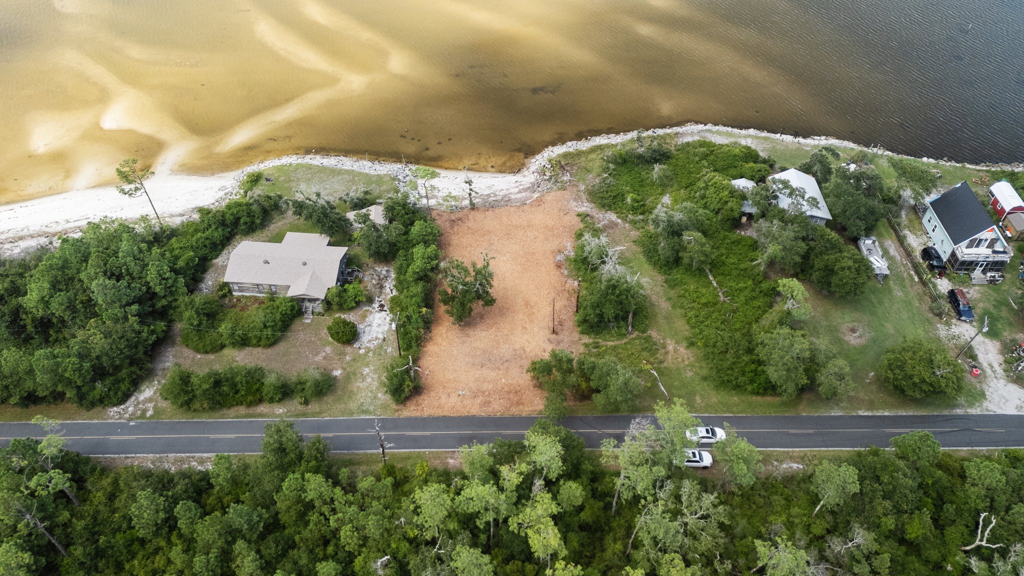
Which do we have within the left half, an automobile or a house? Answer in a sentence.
It is a house that can be seen within the left half.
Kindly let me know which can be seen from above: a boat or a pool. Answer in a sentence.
There is a boat in the scene.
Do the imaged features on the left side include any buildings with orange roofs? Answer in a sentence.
No, I see no building with an orange roof on the left side.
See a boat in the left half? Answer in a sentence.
No, in the left half there is no boat.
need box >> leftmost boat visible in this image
[862,232,893,271]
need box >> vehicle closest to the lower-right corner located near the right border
[945,289,973,322]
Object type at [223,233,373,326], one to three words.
house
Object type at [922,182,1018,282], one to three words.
house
